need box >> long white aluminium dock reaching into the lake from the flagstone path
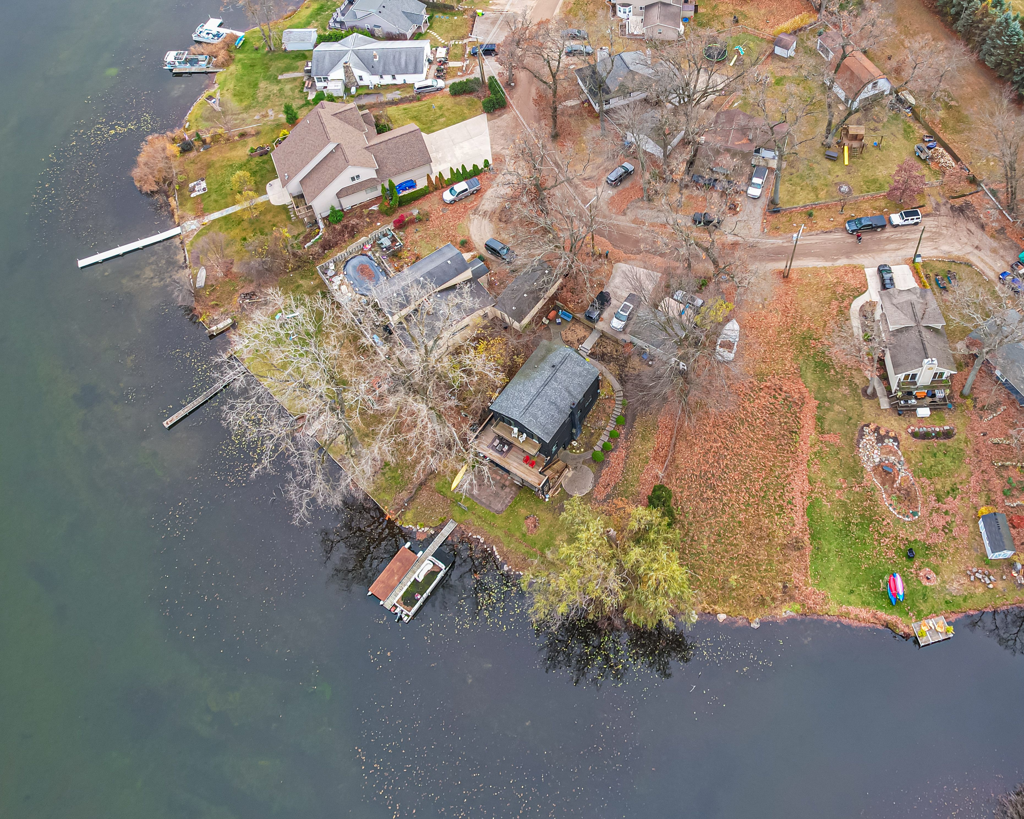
[77,226,182,270]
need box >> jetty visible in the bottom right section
[911,616,954,648]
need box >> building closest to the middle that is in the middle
[470,345,608,499]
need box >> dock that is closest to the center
[383,519,458,611]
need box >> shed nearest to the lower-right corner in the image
[974,510,1017,562]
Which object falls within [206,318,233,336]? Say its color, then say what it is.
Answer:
white boat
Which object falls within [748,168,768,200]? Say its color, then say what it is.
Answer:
white vehicle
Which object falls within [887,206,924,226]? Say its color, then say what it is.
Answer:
white car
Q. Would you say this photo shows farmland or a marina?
marina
